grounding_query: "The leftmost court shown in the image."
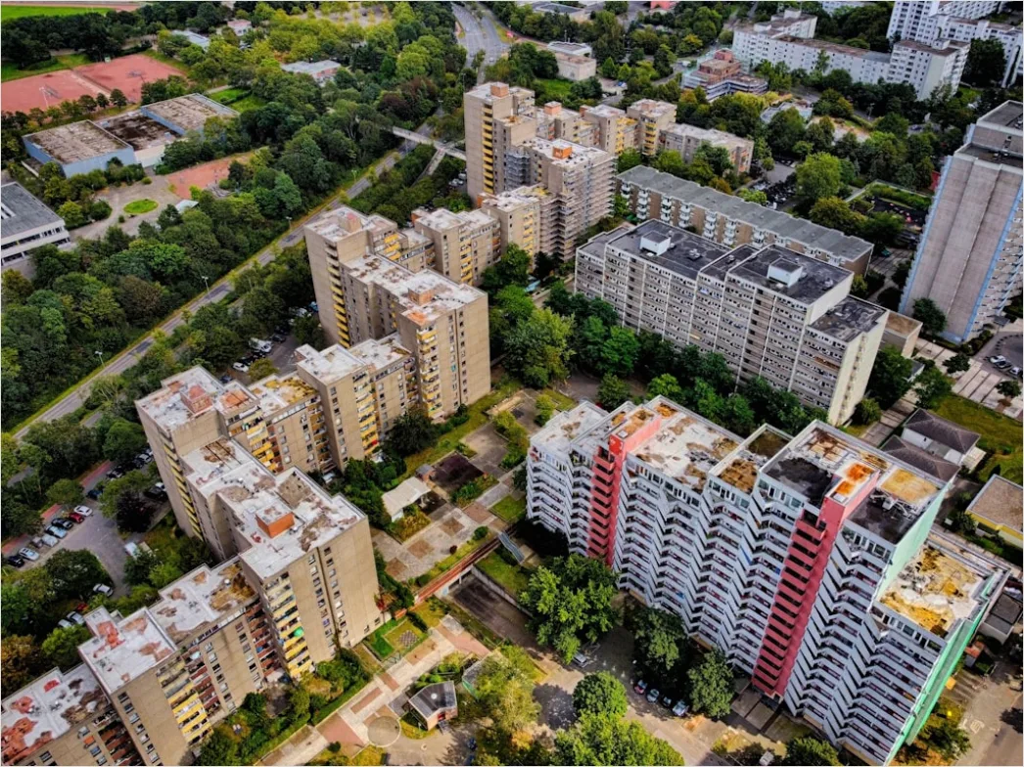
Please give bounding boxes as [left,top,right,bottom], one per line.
[0,54,187,105]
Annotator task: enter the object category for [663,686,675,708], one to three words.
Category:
vehicle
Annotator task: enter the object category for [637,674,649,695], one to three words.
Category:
vehicle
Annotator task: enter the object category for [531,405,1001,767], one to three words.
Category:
building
